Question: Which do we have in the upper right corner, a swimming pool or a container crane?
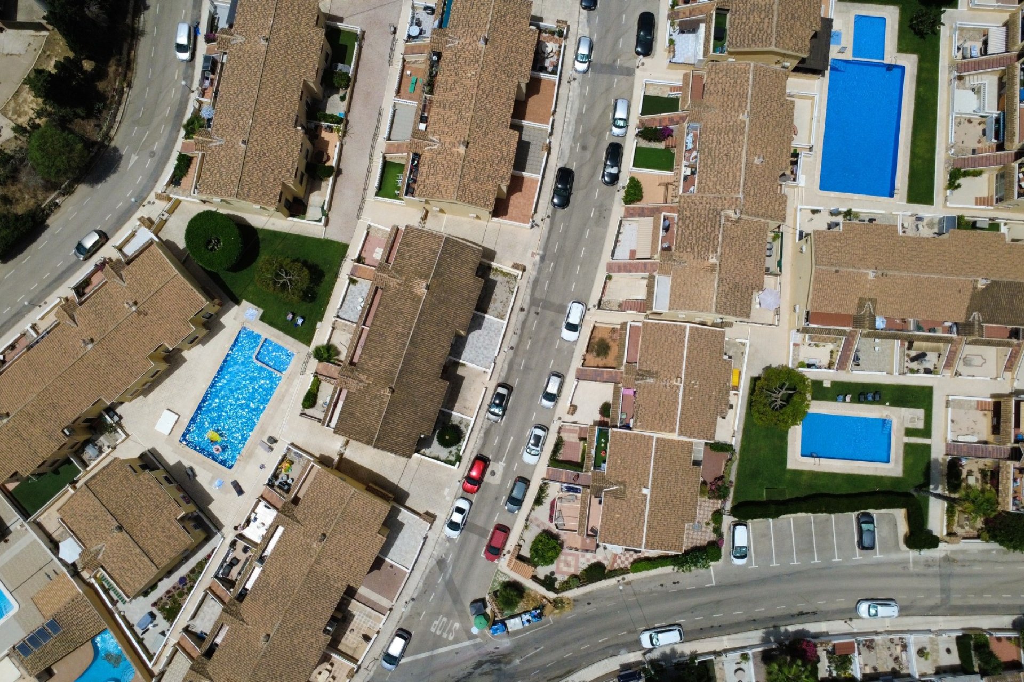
swimming pool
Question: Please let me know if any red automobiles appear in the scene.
Yes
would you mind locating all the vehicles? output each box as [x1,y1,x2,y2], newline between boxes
[552,167,573,209]
[487,382,512,422]
[521,423,549,464]
[634,12,656,57]
[484,523,511,562]
[503,475,530,513]
[855,598,898,620]
[855,512,877,550]
[601,142,623,186]
[462,453,492,494]
[539,371,564,409]
[573,36,594,74]
[561,300,585,342]
[580,0,598,10]
[728,521,751,564]
[173,23,195,62]
[382,627,412,671]
[74,228,111,262]
[640,624,683,649]
[610,98,630,137]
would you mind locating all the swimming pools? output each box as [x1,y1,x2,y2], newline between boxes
[852,15,886,58]
[76,629,132,682]
[819,59,904,197]
[0,586,14,618]
[180,326,297,469]
[801,413,891,463]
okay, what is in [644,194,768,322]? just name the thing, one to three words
house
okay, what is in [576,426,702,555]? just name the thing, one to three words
house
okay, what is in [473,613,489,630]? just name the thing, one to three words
umbrella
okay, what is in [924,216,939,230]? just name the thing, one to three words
umbrella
